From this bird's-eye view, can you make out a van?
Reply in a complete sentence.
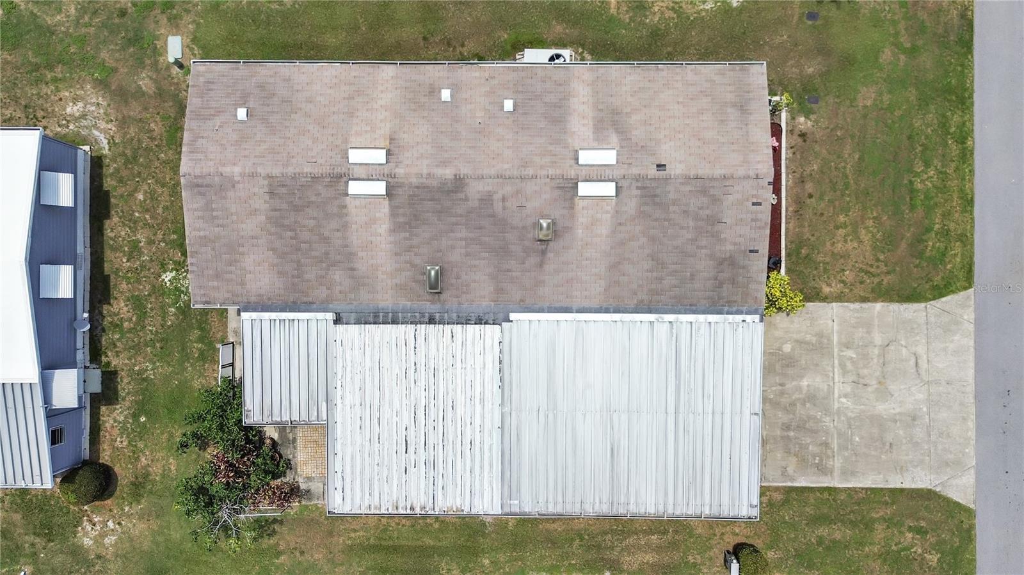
No, I find no van anywhere in the image.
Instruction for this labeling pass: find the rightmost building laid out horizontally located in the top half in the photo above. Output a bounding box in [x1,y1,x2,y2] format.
[181,61,774,325]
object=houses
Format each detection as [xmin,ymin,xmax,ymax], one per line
[181,61,774,325]
[0,123,86,489]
